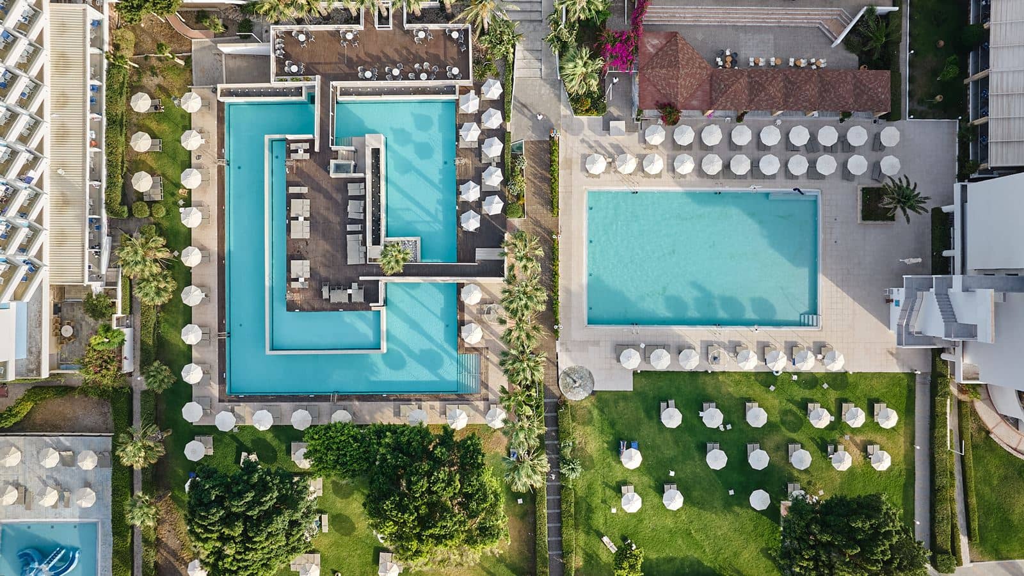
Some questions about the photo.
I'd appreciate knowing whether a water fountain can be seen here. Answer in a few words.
Yes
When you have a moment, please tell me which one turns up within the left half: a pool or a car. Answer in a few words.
pool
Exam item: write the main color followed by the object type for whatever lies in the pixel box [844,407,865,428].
white umbrella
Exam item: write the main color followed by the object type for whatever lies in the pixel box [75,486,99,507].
white umbrella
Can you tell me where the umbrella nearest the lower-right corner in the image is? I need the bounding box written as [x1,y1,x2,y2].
[869,450,891,471]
